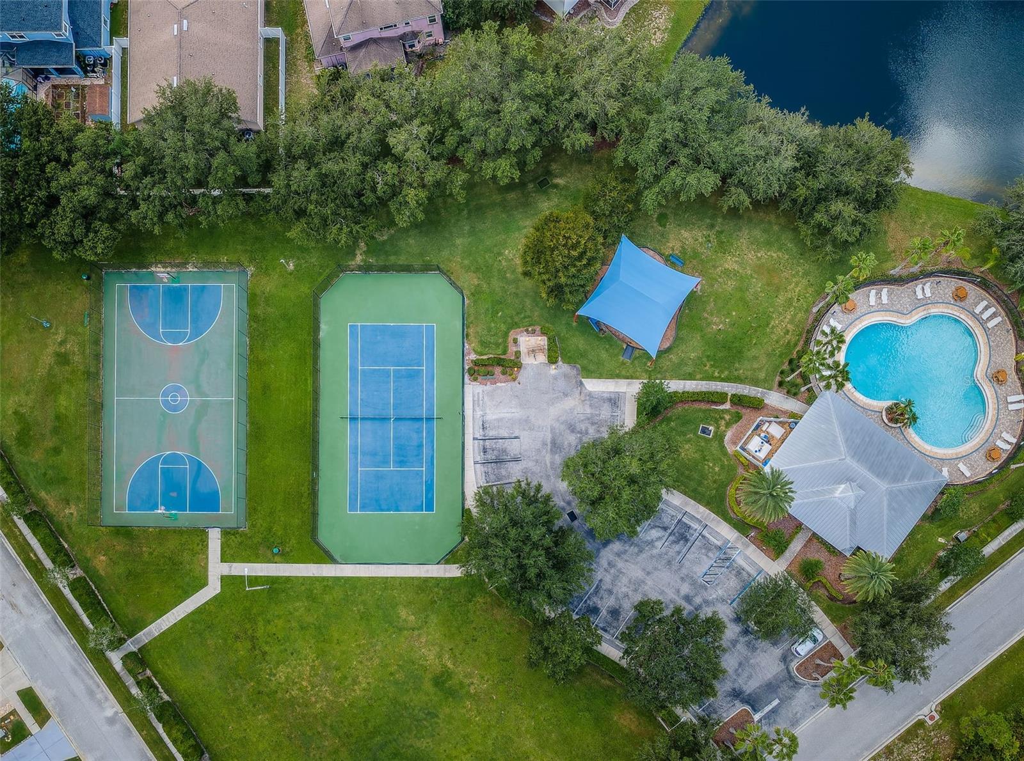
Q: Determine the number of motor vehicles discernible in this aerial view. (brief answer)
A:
one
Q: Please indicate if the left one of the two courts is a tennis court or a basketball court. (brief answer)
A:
basketball court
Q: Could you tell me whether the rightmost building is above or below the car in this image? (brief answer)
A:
above it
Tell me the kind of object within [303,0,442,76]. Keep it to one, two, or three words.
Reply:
house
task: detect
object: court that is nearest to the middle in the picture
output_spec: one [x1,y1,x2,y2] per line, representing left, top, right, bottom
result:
[317,273,462,564]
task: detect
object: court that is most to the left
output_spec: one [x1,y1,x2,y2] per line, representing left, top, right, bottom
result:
[101,271,248,527]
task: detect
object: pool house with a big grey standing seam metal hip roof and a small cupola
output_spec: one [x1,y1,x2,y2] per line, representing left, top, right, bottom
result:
[766,390,947,558]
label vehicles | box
[792,628,826,659]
